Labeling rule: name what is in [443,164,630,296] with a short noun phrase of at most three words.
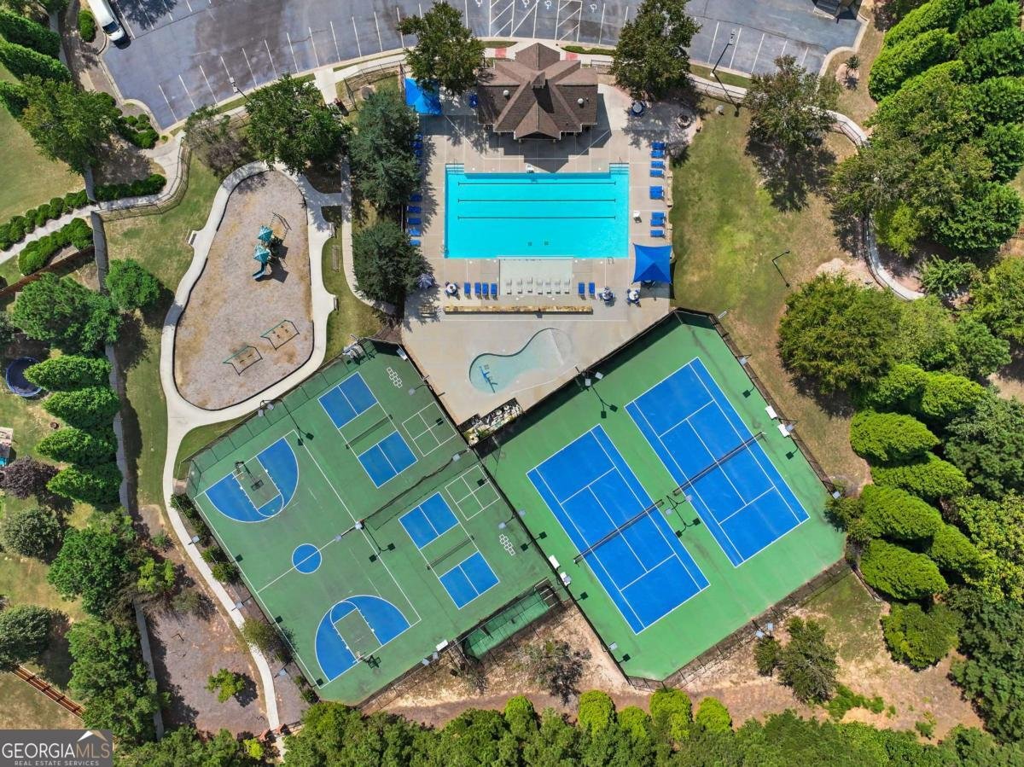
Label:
swimming pool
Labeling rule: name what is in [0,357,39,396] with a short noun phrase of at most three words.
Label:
trampoline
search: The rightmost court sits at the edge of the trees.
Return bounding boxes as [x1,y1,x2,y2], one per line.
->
[623,357,809,567]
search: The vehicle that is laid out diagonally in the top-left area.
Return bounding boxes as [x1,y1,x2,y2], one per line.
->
[89,0,134,50]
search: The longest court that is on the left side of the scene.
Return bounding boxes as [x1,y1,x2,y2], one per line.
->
[193,429,420,688]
